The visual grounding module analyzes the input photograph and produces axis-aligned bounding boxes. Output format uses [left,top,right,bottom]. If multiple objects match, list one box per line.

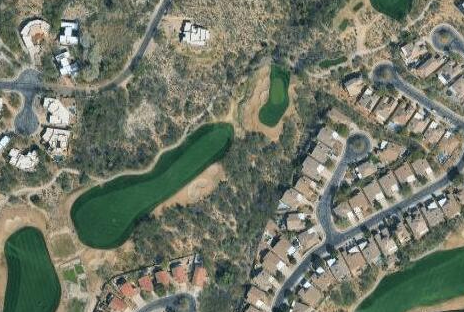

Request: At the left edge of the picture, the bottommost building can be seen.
[6,149,38,171]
